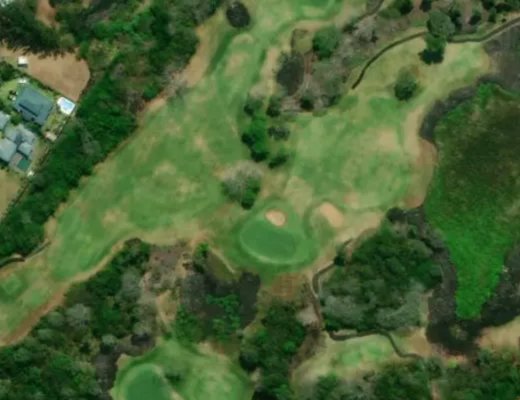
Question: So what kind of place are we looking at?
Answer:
golf course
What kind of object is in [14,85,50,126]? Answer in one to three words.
house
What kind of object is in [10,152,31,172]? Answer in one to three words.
swimming pool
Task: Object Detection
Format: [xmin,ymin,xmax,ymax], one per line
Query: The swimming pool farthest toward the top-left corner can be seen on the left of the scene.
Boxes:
[57,96,75,114]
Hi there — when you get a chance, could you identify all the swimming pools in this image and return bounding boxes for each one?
[10,152,31,172]
[57,96,75,114]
